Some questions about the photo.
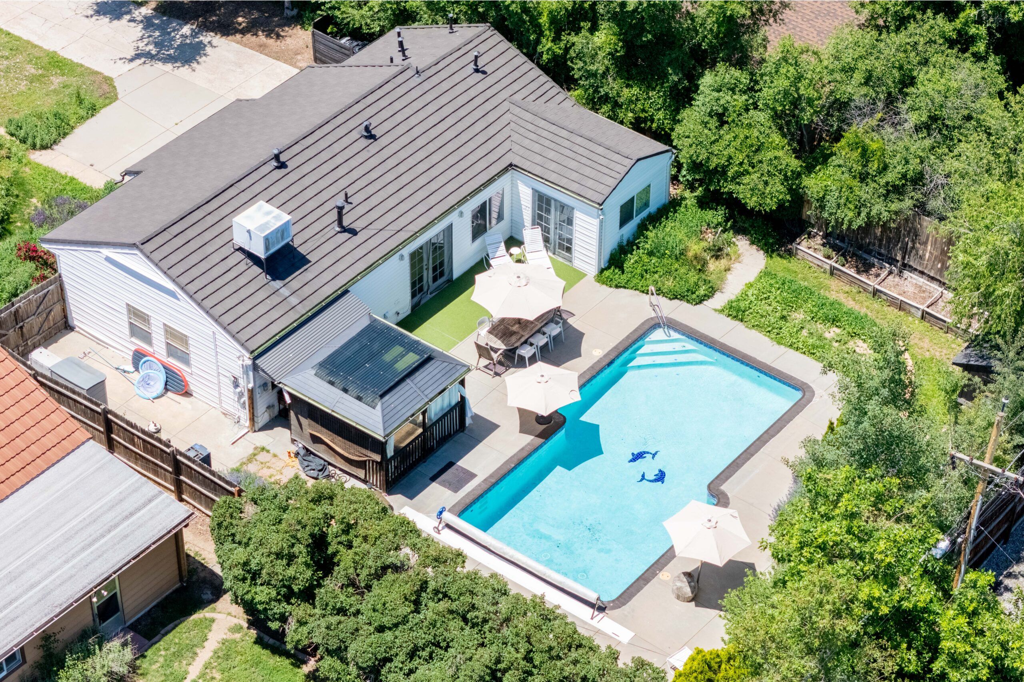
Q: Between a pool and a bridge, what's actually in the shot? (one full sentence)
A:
Looking from above, you can make out a pool.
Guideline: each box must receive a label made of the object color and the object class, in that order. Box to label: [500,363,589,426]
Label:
white umbrella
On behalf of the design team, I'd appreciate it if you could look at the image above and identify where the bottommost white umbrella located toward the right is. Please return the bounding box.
[656,502,751,586]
